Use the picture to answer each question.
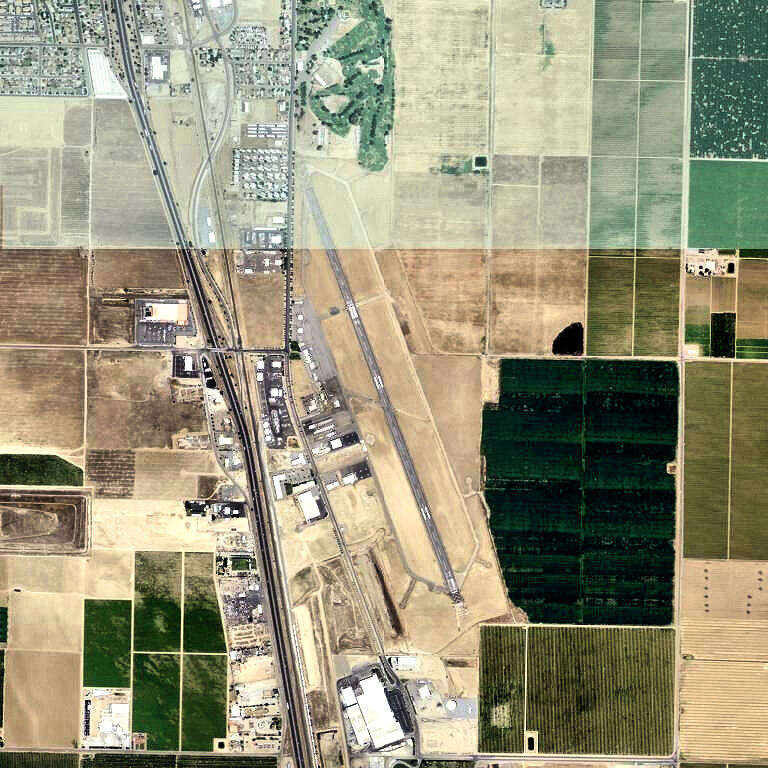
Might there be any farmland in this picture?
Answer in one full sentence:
Yes, there's farmland in this view.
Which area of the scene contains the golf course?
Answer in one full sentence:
The golf course is located in the top region of the scene.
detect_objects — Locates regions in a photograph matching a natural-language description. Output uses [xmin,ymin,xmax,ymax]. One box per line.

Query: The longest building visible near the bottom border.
[358,675,405,748]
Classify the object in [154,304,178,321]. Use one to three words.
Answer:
building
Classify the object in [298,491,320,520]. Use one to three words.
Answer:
building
